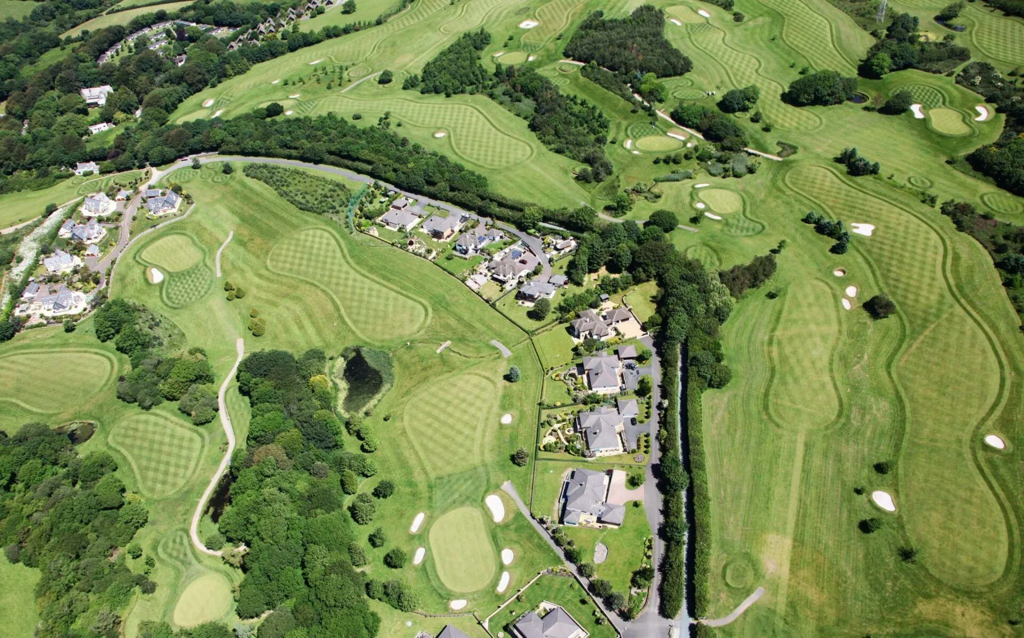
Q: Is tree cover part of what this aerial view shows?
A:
Yes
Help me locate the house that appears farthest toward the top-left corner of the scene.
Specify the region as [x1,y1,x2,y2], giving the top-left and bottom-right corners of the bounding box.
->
[80,87,114,106]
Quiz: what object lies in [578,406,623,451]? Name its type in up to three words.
house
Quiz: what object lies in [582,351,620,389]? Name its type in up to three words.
house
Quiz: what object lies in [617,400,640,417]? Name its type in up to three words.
building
